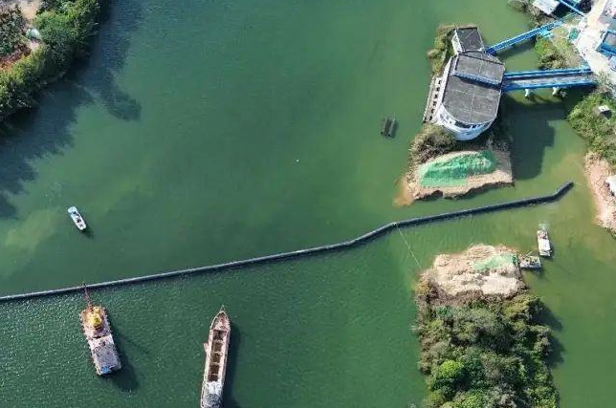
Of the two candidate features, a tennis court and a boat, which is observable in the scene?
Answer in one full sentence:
I can see a boat in this picture.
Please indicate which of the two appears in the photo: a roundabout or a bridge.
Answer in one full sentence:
The image shows a bridge.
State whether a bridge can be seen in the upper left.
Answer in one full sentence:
No, the scene shows no bridge in the upper left.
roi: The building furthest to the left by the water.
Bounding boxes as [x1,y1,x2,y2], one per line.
[420,27,506,141]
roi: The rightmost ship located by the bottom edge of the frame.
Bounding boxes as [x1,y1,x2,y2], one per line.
[200,306,233,408]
